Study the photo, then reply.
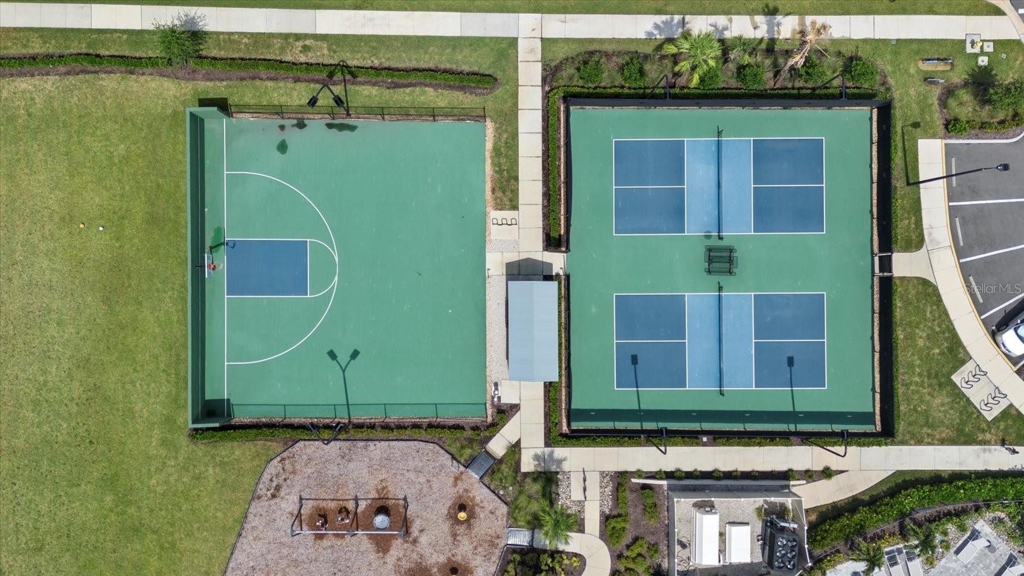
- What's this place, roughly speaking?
sports ground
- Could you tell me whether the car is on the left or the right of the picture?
right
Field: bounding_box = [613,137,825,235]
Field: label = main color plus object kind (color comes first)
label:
blue sports court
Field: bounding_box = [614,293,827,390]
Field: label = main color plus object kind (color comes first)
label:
blue sports court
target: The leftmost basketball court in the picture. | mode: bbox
[204,118,486,418]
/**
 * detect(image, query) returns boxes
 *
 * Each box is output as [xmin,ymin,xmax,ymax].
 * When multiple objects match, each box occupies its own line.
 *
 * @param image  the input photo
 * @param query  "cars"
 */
[994,309,1024,353]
